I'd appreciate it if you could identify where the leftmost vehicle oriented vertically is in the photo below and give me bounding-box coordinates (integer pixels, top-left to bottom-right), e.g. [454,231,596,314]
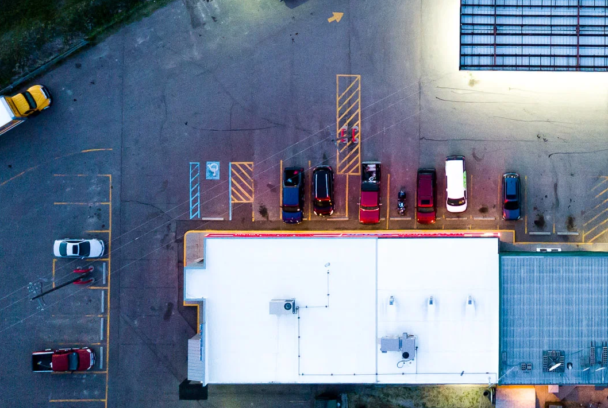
[279,165,306,225]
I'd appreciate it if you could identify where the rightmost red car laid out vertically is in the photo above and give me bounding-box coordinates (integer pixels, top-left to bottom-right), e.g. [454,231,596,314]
[414,169,439,223]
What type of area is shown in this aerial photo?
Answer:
parking lot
